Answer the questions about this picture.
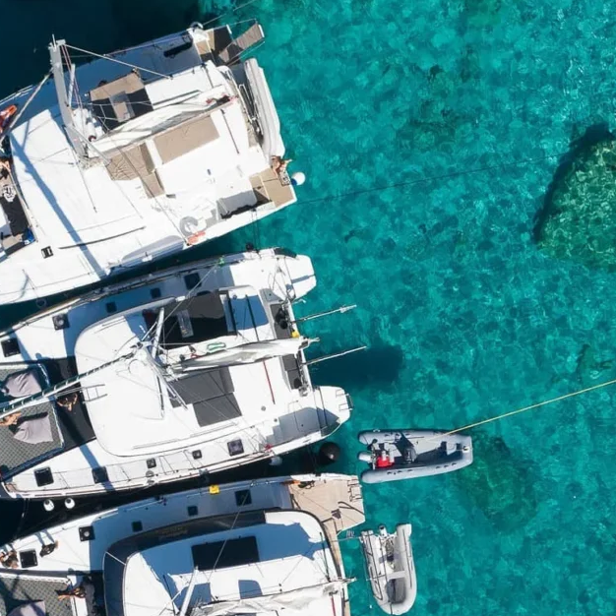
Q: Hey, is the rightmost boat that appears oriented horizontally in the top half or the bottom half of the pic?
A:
bottom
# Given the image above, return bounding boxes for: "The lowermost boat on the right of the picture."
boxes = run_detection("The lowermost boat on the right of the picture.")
[361,517,418,616]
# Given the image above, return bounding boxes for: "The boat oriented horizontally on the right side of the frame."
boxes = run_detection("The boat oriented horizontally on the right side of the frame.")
[351,426,475,483]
